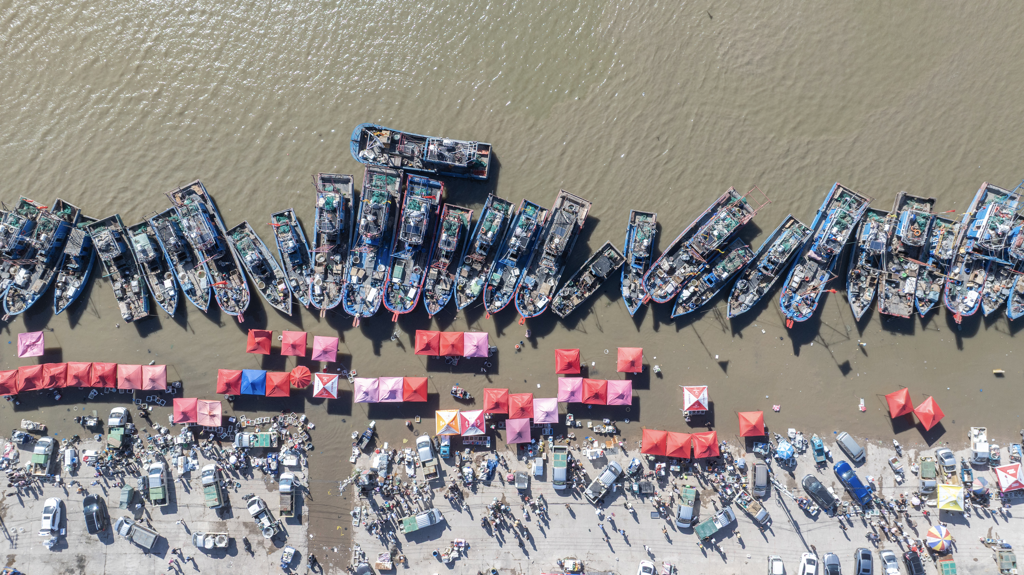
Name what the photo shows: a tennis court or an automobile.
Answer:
automobile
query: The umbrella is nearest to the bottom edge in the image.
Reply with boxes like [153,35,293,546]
[925,526,950,551]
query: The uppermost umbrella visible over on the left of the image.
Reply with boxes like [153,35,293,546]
[291,366,312,387]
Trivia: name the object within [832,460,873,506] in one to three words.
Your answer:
truck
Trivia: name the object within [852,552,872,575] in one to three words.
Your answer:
car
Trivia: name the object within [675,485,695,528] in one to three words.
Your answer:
vehicle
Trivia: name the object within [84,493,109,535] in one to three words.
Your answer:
car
